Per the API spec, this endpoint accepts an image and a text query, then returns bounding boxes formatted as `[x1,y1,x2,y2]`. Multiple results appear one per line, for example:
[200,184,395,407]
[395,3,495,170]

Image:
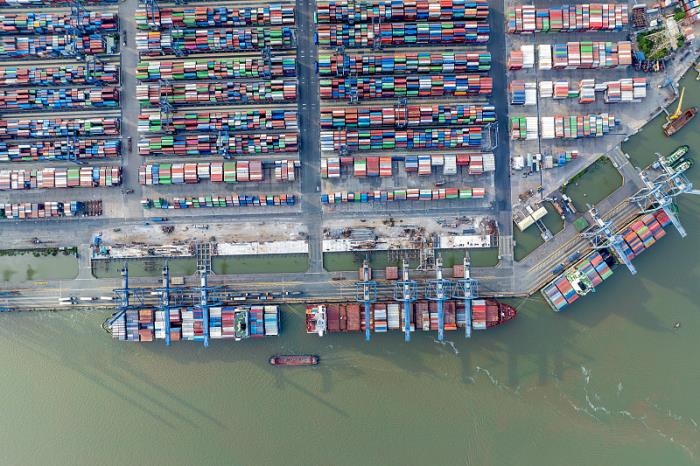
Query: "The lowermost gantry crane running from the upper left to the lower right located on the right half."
[577,203,638,275]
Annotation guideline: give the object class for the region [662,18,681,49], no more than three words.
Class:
building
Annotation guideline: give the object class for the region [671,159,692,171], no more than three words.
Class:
boat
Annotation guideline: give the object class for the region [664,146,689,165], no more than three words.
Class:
boat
